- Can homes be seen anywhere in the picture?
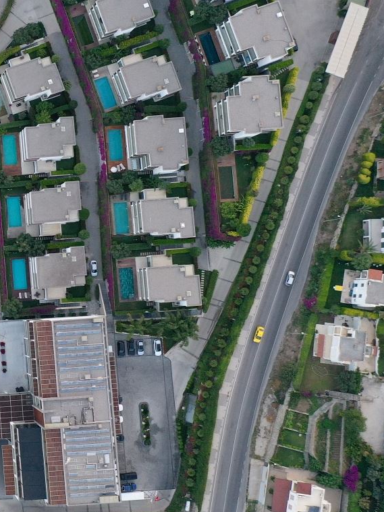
Yes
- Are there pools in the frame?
Yes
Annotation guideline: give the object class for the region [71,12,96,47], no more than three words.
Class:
swimming pool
